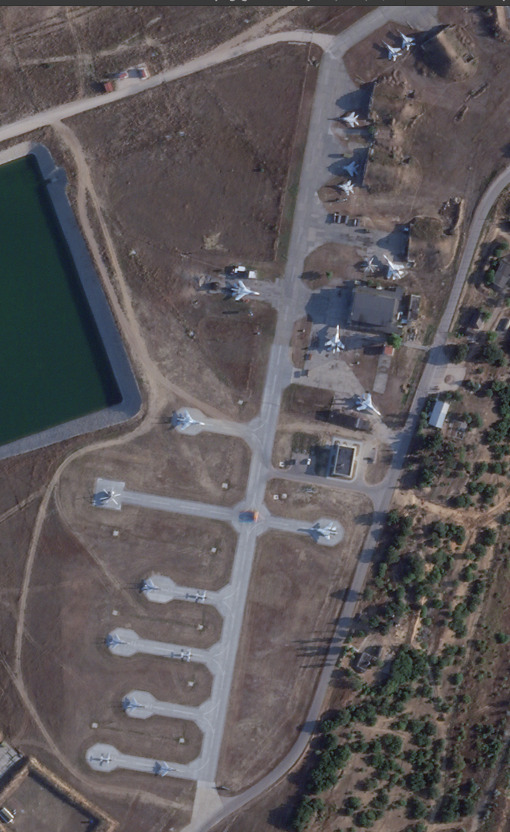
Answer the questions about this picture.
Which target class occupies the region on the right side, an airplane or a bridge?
airplane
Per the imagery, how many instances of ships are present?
0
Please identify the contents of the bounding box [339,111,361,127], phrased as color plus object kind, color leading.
white airplane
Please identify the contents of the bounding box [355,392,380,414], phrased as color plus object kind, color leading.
white airplane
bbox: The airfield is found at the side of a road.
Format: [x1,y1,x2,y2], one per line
[89,0,438,780]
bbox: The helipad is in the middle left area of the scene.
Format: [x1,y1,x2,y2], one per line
[93,478,125,510]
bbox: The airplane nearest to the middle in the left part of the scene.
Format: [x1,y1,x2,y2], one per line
[175,411,205,431]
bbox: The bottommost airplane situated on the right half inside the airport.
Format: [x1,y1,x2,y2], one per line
[308,522,340,542]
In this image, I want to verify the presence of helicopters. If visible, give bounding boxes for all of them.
[363,257,379,274]
[102,484,120,505]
